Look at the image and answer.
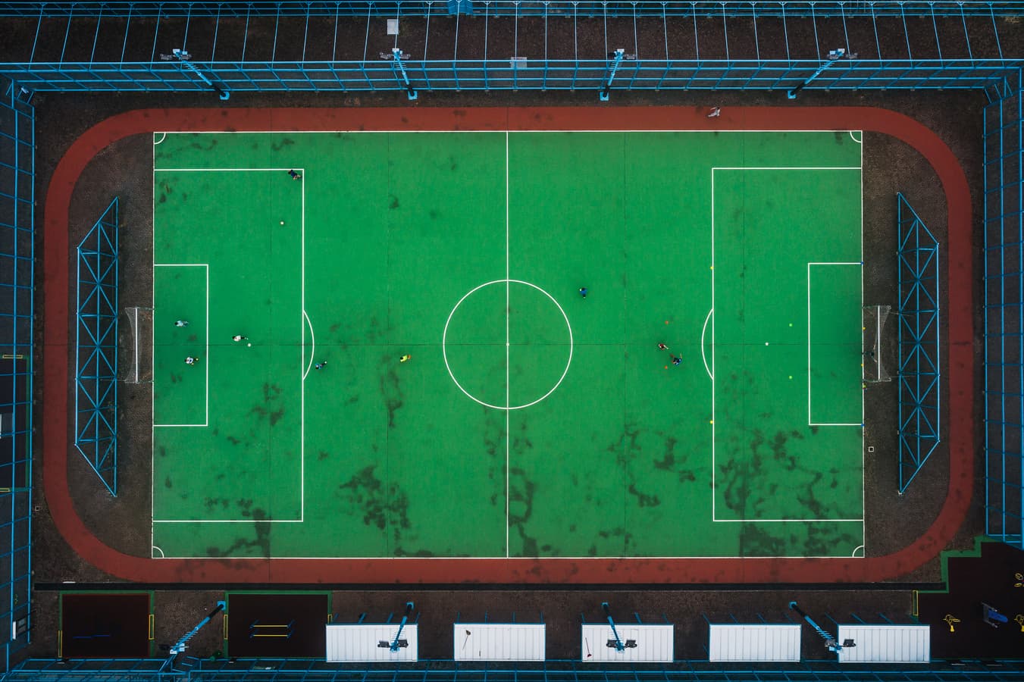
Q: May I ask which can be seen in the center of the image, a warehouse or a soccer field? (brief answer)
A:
soccer field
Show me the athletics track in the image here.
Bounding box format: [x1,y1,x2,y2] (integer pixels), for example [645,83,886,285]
[44,106,973,583]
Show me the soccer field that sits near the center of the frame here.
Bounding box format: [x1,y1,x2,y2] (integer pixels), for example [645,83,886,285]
[152,130,865,559]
